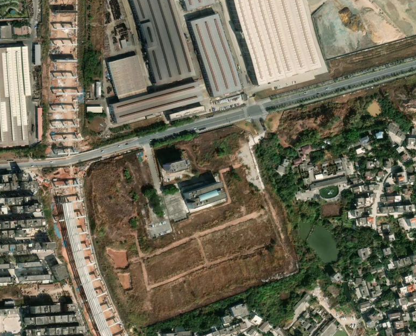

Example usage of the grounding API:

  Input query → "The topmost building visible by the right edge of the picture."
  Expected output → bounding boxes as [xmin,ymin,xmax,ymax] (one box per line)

[386,122,405,146]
